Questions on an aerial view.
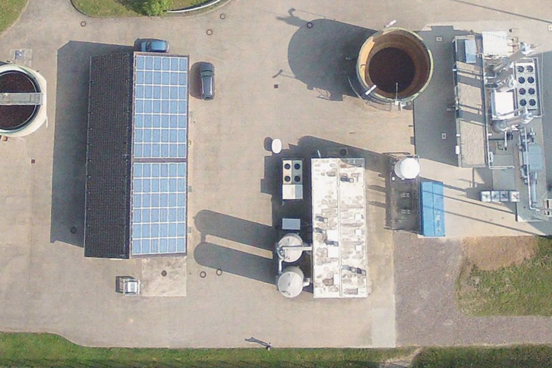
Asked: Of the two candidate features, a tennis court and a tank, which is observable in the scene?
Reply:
tank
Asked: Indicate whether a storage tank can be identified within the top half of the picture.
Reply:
Yes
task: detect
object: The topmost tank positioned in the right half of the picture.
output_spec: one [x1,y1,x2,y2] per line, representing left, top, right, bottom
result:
[352,26,435,114]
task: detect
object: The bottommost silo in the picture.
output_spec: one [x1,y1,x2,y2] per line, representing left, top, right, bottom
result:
[277,264,311,296]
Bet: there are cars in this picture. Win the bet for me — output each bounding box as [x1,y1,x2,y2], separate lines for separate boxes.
[141,39,171,54]
[197,63,215,101]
